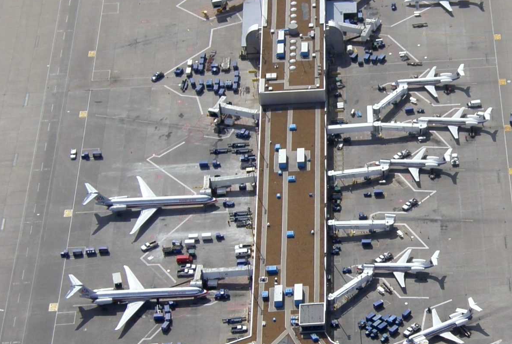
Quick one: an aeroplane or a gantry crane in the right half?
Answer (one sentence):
Visible in the right half is an aeroplane.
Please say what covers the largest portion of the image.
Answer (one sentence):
Most of the picture is covered by paved ground.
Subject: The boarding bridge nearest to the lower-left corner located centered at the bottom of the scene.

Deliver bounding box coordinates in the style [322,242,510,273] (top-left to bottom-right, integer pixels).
[192,265,253,292]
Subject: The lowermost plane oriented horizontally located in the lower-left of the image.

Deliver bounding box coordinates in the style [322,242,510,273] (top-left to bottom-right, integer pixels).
[62,266,208,330]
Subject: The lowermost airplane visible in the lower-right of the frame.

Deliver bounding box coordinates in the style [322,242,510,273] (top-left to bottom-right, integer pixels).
[402,296,485,344]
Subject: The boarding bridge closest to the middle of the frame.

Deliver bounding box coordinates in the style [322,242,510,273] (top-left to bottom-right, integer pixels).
[201,174,256,198]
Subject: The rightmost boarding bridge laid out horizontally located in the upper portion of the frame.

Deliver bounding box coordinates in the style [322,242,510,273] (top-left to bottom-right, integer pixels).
[372,117,428,144]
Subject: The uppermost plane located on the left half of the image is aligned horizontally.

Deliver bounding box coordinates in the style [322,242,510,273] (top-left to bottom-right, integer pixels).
[78,177,218,234]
